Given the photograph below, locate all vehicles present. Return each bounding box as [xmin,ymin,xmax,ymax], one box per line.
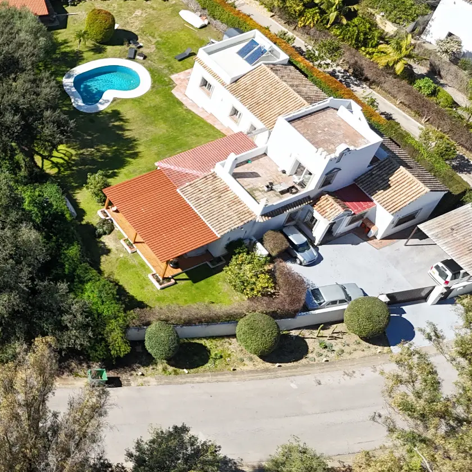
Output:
[303,281,366,316]
[427,255,470,288]
[280,221,324,267]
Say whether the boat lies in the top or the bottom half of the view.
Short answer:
top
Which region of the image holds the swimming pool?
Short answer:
top left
